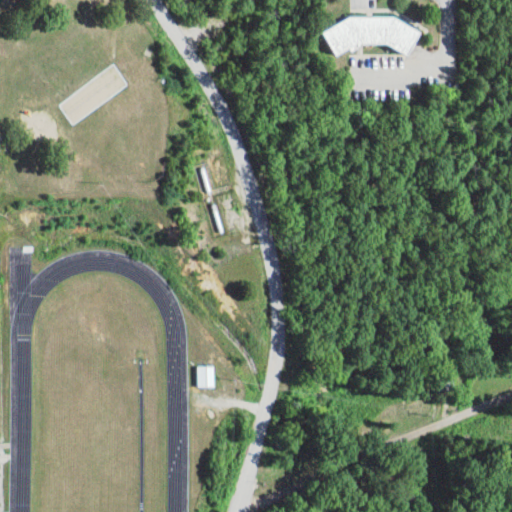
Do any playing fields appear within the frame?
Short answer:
Yes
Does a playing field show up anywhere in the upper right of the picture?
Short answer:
No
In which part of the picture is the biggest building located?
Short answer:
top right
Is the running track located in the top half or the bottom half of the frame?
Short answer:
bottom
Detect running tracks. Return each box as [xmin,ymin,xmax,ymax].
[10,248,189,512]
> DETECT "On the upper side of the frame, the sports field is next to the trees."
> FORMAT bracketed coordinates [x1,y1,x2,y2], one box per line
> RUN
[0,24,167,194]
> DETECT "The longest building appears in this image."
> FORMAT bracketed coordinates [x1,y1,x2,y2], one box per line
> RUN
[322,15,423,58]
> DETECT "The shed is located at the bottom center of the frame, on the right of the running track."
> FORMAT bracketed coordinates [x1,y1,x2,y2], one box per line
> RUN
[194,366,214,389]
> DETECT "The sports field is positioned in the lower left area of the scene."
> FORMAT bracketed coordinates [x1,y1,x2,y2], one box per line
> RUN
[32,272,168,512]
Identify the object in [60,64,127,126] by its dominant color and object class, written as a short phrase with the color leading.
white sports court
